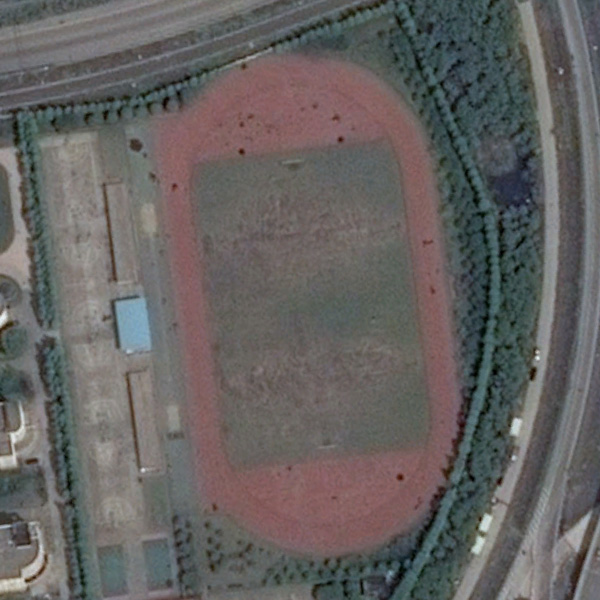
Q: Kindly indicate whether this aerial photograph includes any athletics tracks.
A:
Yes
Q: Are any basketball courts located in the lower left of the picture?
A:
Yes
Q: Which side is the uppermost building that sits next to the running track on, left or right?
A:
left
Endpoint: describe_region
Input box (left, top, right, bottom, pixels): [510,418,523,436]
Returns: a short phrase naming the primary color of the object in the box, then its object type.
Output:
white vehicle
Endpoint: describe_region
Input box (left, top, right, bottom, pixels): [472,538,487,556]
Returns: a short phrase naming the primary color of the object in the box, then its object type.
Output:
white vehicle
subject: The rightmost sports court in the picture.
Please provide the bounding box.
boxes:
[138,535,176,595]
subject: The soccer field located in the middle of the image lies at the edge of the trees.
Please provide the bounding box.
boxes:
[195,138,427,470]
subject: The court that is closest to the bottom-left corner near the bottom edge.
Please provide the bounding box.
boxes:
[93,540,131,600]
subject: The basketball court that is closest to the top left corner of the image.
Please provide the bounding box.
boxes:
[47,143,100,228]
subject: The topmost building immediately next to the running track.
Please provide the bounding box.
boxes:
[115,296,152,357]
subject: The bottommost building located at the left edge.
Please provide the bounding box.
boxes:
[0,523,43,594]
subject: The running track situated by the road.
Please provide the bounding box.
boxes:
[152,55,460,556]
